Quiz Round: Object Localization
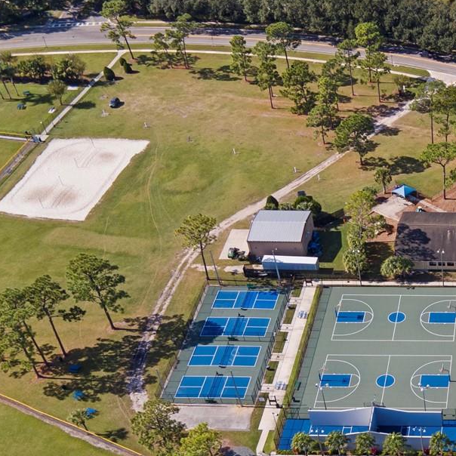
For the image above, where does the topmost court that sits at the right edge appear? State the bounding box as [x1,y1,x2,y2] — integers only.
[324,295,456,341]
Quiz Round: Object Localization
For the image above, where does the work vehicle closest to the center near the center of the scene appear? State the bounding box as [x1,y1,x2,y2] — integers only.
[225,245,240,258]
